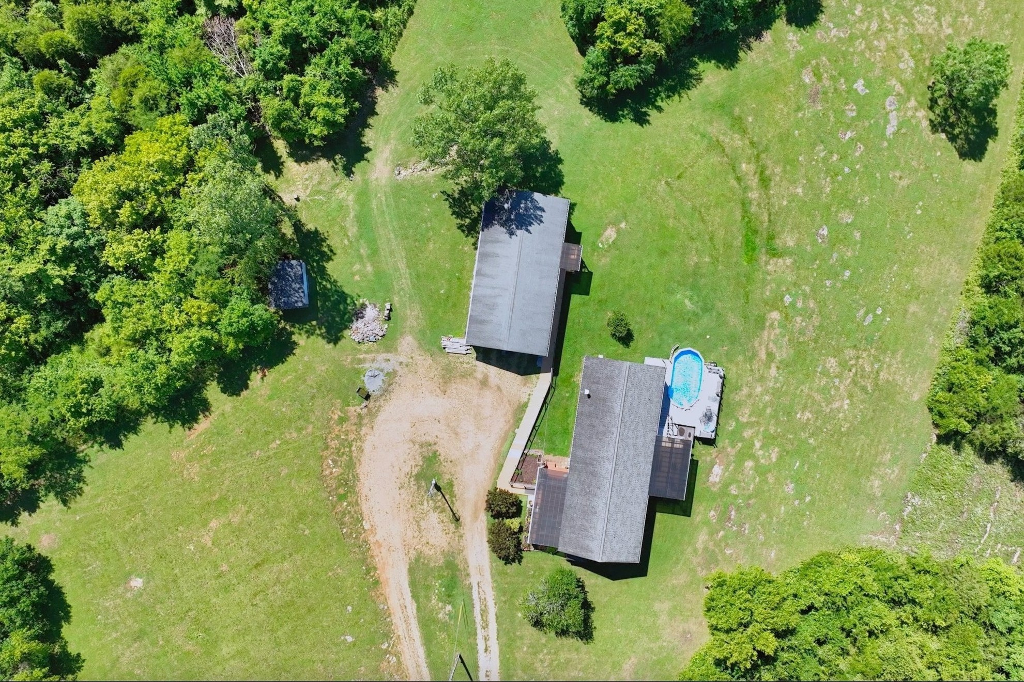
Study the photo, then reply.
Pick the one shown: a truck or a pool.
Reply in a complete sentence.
There is a pool in the scene.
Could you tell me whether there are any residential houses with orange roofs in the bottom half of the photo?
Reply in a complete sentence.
No, there is no residential house with an orange roof in the bottom half of the photo.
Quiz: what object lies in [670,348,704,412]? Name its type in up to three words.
swimming pool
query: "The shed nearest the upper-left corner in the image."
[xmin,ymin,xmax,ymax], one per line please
[273,260,313,309]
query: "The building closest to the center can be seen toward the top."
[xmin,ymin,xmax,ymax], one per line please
[464,189,583,356]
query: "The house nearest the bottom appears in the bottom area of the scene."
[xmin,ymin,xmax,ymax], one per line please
[527,356,693,563]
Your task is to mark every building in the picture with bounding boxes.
[273,260,313,309]
[464,189,583,356]
[527,356,693,563]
